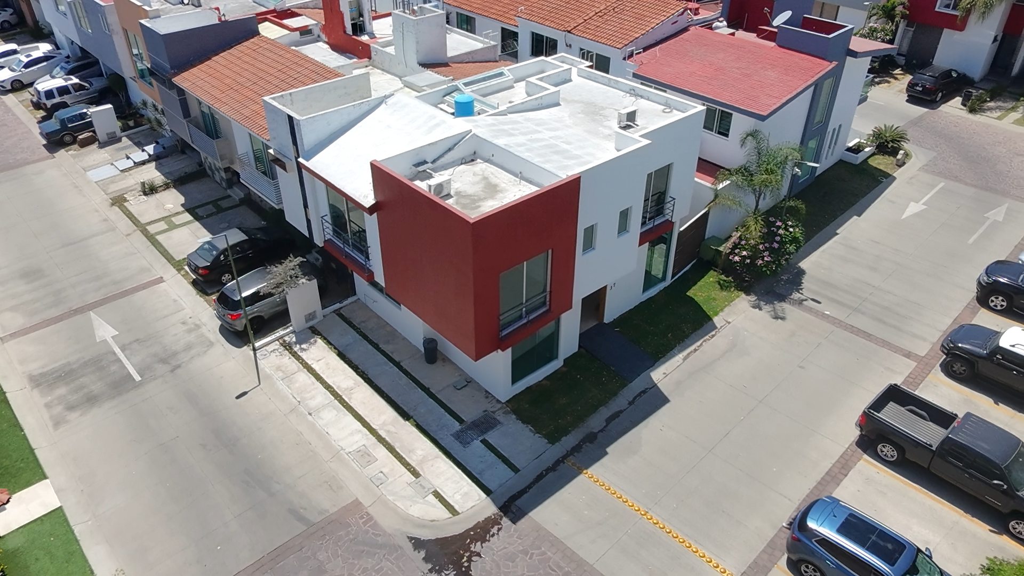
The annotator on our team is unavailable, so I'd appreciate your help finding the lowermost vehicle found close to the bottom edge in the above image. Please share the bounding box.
[781,492,943,576]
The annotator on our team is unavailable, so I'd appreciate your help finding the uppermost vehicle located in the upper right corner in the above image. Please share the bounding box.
[909,65,960,103]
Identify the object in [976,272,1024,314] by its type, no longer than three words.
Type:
car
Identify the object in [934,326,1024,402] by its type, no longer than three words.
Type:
car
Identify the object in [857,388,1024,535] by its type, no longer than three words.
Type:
truck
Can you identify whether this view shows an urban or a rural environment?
urban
